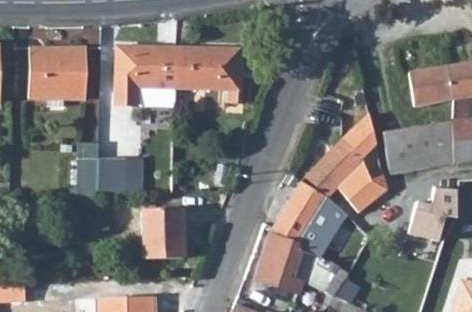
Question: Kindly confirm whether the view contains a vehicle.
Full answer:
Yes, looking at the shot, I can spot a vehicle.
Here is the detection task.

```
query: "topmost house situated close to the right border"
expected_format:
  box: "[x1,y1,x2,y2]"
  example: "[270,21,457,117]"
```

[410,61,472,108]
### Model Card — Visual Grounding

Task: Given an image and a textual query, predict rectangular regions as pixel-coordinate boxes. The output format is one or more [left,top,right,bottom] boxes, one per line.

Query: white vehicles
[182,196,203,206]
[247,285,272,302]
